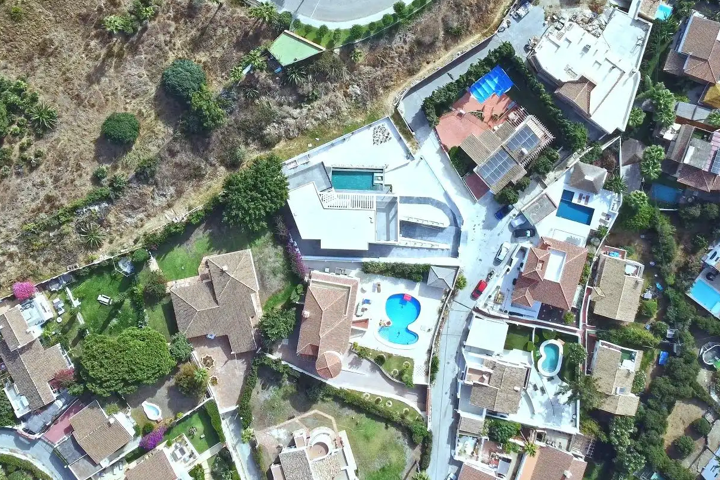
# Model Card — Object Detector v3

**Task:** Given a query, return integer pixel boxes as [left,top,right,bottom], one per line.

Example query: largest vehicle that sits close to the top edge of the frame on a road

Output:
[515,1,532,18]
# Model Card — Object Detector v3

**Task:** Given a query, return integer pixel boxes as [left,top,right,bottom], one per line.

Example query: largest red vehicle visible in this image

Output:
[471,279,488,299]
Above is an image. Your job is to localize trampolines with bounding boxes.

[116,256,135,274]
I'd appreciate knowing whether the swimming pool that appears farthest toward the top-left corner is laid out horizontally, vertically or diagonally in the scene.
horizontally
